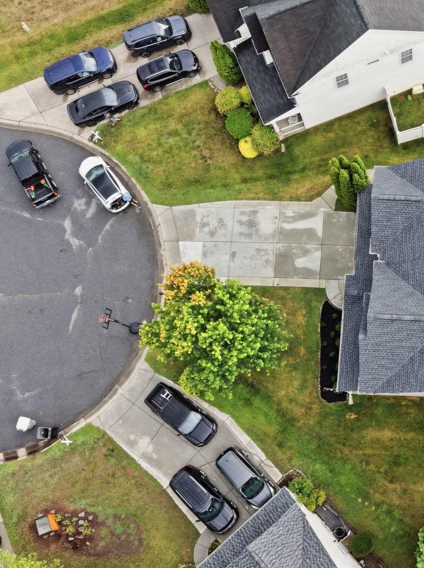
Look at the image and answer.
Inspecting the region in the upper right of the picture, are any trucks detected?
No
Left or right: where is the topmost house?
right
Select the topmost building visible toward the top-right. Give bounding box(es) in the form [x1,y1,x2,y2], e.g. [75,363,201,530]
[206,0,424,140]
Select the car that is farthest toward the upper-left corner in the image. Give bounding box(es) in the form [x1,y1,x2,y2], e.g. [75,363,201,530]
[46,49,117,95]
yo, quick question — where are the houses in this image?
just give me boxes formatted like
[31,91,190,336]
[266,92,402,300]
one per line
[206,0,424,140]
[336,157,424,398]
[198,485,360,568]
